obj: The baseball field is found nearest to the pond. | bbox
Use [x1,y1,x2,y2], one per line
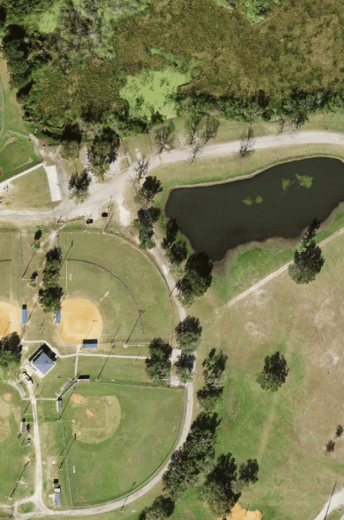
[57,230,171,345]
